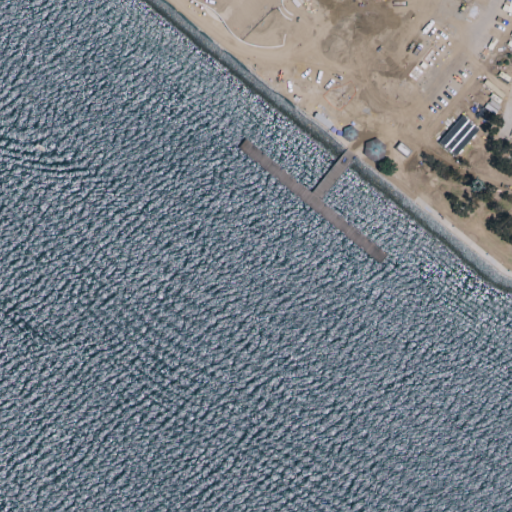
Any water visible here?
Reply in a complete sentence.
Yes, water can be seen from above here.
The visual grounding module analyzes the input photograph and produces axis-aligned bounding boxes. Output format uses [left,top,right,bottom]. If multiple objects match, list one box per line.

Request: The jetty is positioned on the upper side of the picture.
[240,140,386,261]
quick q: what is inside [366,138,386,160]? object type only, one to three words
gazebo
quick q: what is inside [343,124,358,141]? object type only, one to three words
gazebo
